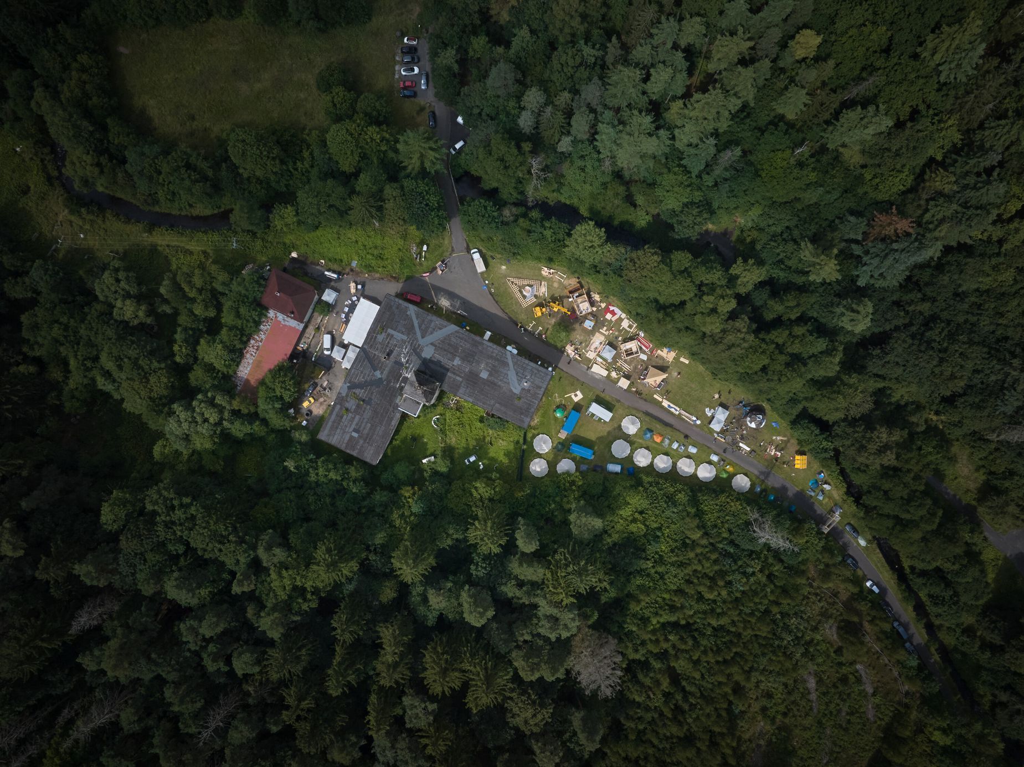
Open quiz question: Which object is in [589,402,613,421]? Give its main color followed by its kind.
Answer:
white gazebo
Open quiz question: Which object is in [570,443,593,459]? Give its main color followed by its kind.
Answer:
blue gazebo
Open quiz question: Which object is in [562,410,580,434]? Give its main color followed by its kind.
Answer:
blue gazebo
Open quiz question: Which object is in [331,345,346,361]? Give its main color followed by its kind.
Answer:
white gazebo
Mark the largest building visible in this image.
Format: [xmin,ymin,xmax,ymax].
[317,293,553,465]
